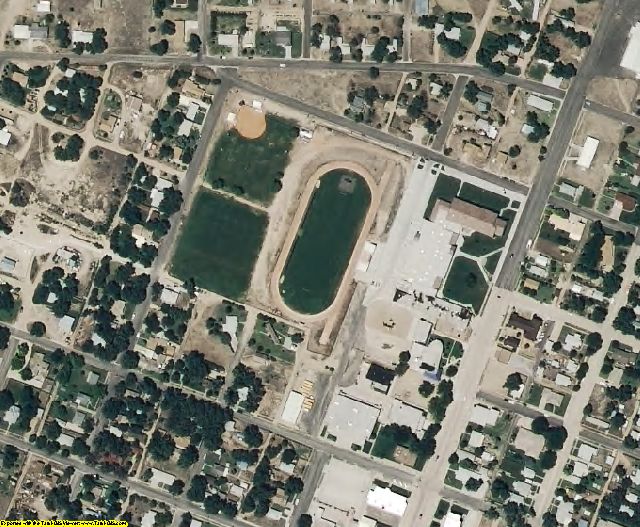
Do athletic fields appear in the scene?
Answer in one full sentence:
Yes, the photo shows an athletic field.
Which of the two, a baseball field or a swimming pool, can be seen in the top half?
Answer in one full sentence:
You can see a baseball field in the top half.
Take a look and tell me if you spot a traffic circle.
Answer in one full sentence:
No, the frame has no traffic circle in it.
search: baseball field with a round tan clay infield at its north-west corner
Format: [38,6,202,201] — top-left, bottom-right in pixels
[204,106,300,207]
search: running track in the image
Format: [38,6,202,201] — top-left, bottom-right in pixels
[271,159,379,344]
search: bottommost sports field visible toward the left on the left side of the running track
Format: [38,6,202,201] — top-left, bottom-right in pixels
[171,189,266,299]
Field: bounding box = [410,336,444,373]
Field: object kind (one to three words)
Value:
building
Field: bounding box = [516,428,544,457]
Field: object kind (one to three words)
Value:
building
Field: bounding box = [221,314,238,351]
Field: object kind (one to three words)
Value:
house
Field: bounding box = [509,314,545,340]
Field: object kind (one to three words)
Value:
house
